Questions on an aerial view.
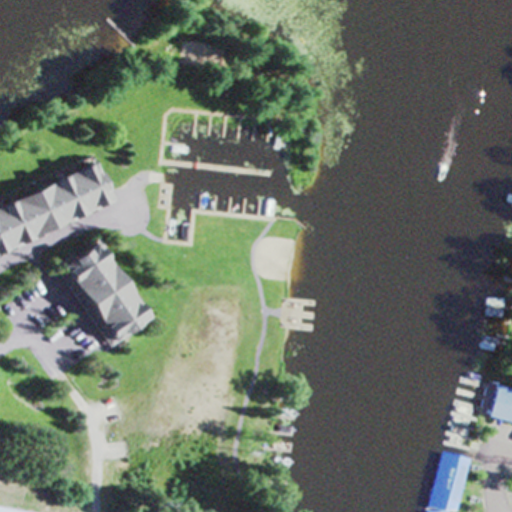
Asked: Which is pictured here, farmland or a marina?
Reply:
marina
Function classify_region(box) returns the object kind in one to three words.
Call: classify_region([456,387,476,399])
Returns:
boat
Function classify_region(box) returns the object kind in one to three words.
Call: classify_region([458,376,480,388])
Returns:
boat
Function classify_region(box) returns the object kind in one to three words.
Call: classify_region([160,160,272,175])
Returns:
pier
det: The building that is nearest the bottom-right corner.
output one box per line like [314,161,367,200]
[428,451,472,512]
